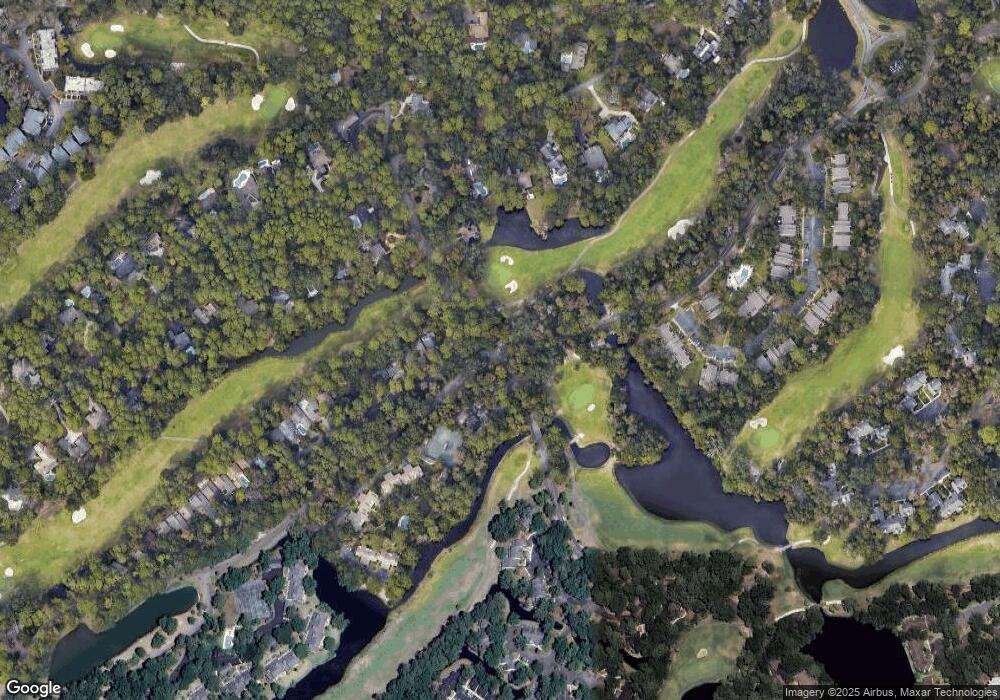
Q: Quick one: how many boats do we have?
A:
zero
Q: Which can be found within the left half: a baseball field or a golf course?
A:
golf course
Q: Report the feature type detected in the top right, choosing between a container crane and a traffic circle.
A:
traffic circle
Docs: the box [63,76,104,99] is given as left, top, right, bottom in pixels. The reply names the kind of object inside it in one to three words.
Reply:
building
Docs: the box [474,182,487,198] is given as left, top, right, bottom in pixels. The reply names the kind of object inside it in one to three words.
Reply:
swimming pool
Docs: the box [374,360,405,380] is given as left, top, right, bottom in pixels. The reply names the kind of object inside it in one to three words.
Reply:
house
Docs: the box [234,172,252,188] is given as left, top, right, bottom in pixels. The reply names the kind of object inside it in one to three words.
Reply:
swimming pool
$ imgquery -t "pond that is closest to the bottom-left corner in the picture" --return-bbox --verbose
[49,586,199,686]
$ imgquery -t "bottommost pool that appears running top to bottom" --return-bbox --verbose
[223,627,236,650]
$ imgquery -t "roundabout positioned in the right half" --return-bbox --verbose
[861,30,931,104]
